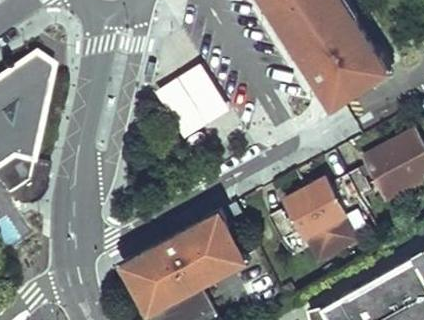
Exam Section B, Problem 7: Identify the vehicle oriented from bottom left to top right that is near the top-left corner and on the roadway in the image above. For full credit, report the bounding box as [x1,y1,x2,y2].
[0,28,19,45]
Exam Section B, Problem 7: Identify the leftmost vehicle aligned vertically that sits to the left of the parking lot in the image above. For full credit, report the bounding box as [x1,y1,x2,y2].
[144,56,156,82]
